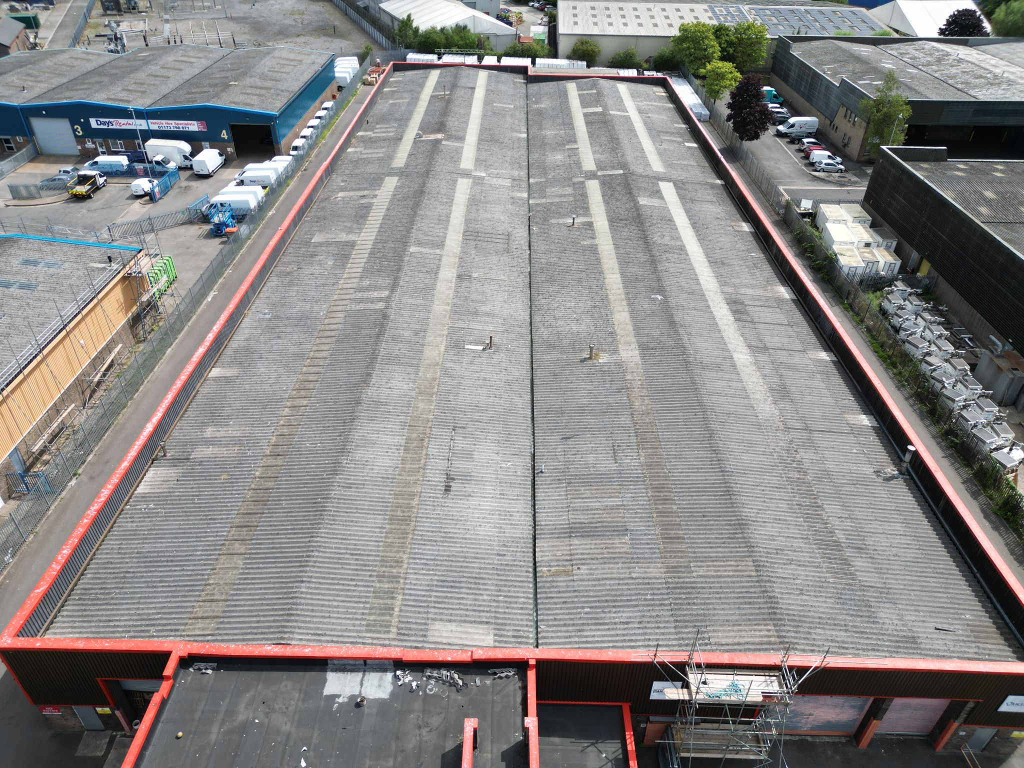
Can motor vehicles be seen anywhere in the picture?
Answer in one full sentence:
Yes, the image includes a motor vehicle.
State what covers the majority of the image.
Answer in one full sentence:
The largest share of the image is taken up by buildings.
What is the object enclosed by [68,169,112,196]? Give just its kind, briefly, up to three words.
truck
